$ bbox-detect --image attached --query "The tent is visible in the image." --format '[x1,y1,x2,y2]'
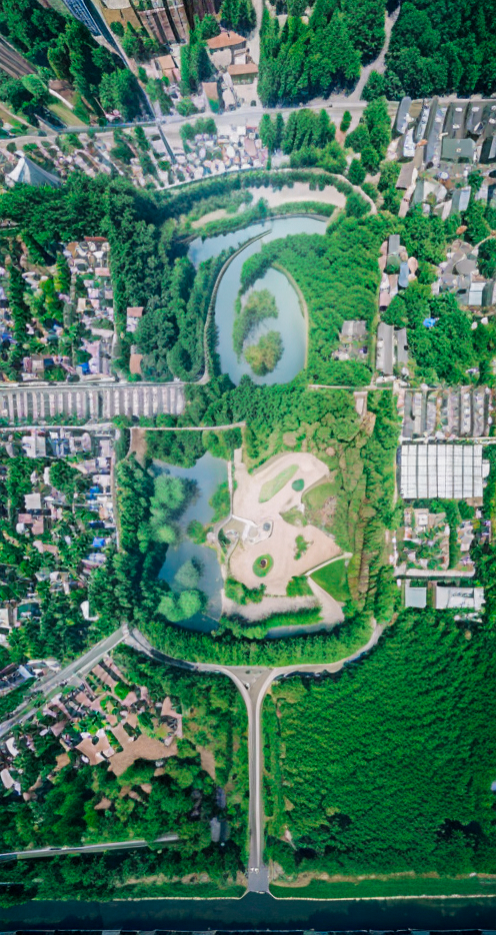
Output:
[4,150,62,190]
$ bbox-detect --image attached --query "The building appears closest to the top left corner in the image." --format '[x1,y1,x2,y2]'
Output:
[62,0,106,47]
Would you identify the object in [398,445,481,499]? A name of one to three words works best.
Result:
greenhouse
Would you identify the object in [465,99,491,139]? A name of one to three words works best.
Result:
shed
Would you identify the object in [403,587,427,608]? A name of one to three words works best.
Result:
shed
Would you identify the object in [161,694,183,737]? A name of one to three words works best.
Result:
house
